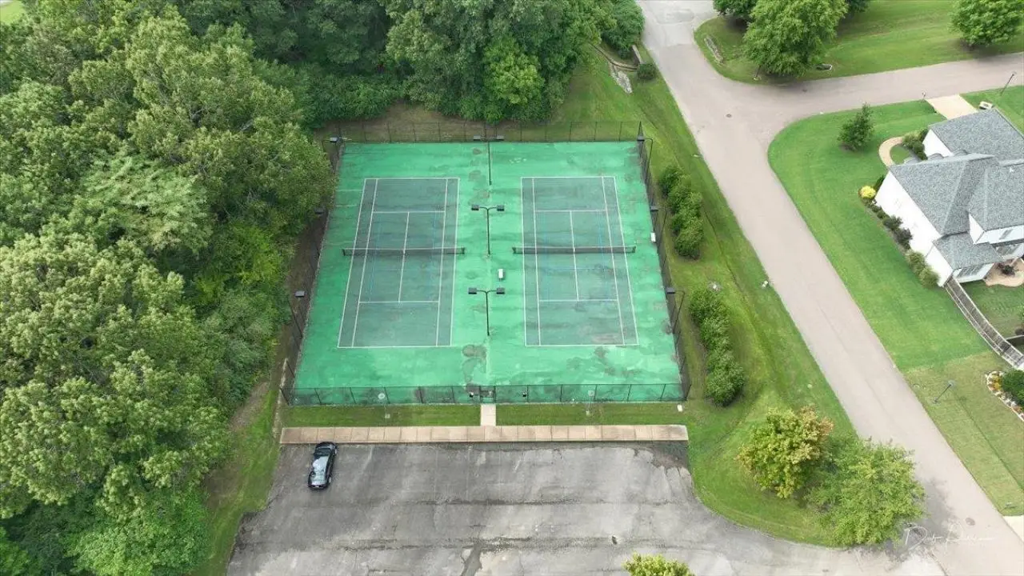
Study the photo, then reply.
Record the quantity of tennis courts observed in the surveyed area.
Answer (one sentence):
Looking from above, you can make out 2 tennis courts.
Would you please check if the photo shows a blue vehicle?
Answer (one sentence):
No, no blue vehicle is visible in the view.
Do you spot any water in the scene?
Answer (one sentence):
No, the picture contains no water.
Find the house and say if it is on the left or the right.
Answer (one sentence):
It is on the right.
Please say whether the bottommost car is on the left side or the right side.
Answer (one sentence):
The bottommost car appears in the left half of the scene.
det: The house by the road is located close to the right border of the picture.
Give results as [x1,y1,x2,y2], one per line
[879,108,1024,286]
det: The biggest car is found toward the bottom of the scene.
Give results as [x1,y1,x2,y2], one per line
[306,441,335,490]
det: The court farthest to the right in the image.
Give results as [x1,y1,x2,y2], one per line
[488,140,685,403]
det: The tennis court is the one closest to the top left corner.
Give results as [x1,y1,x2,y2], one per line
[289,141,491,405]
